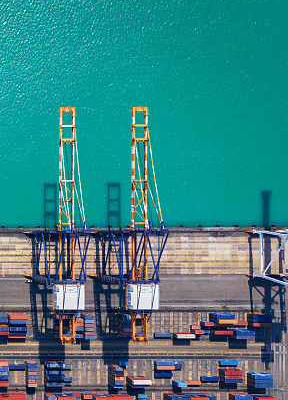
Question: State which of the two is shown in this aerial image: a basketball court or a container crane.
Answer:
container crane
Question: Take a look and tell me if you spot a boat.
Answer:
No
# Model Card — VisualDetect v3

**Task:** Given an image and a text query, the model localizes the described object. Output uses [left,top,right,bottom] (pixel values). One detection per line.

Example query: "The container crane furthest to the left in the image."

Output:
[24,107,93,345]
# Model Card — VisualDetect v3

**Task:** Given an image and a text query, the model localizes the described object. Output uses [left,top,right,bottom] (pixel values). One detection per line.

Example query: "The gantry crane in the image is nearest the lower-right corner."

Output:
[242,230,288,281]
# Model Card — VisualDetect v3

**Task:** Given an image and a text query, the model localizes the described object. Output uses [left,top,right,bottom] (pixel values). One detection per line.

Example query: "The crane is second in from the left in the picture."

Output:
[89,106,169,345]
